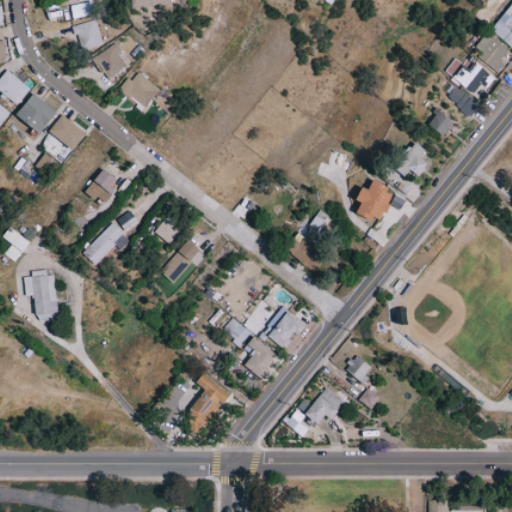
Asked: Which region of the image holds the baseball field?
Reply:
right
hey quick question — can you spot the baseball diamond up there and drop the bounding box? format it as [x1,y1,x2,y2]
[392,216,512,400]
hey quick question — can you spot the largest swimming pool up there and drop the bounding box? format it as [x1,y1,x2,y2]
[274,290,294,304]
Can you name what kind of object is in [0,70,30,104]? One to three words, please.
house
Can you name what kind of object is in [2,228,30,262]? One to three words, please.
barn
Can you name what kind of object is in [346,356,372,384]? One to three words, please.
house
